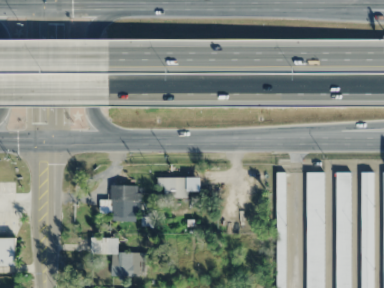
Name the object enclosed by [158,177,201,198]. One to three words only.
house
